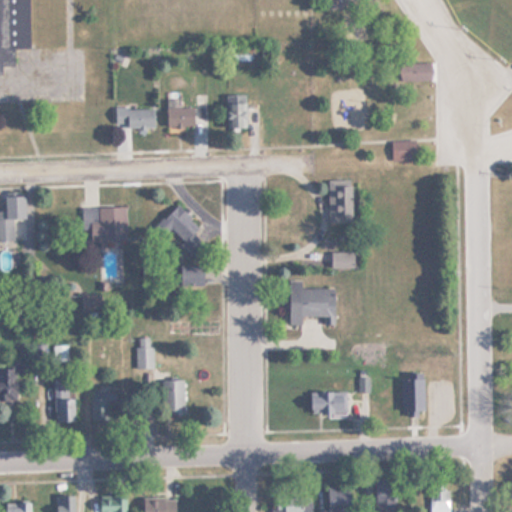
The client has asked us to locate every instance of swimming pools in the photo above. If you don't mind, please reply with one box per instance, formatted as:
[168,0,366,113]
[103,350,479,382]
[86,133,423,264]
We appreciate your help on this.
[100,251,118,280]
[0,248,14,272]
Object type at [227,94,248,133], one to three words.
house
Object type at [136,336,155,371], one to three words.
house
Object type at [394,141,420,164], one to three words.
building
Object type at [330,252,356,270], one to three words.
building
